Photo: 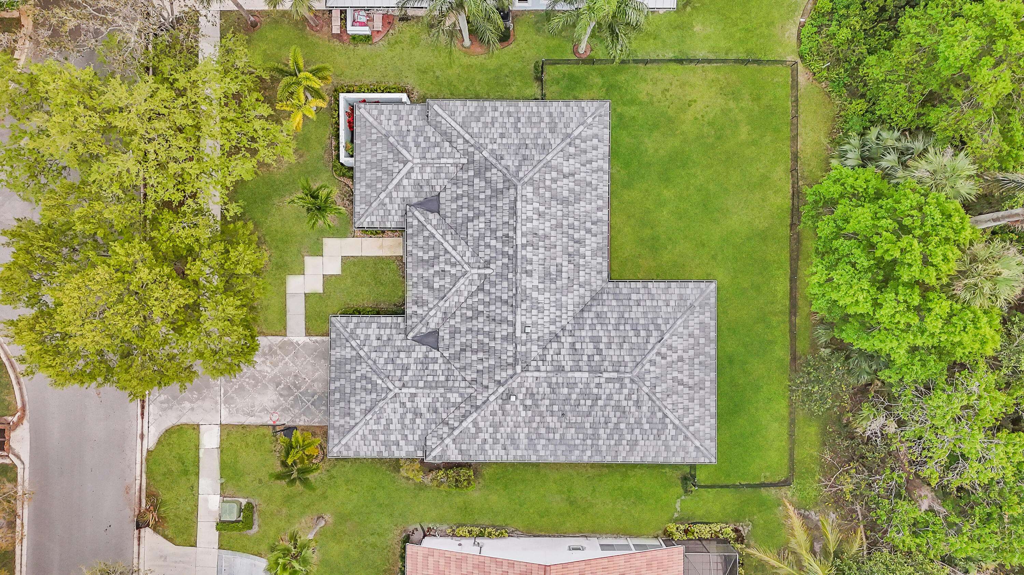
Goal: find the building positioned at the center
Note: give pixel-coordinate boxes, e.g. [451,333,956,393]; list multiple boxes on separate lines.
[329,100,716,464]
